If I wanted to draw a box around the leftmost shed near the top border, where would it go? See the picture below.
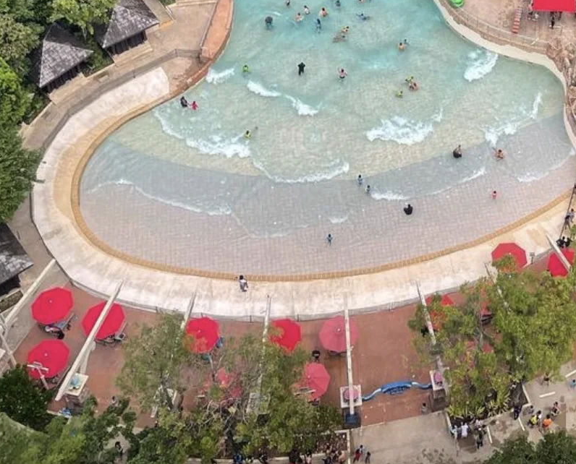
[41,19,100,103]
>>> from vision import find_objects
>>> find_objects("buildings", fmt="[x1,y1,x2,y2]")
[41,19,100,103]
[103,0,163,65]
[0,223,38,306]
